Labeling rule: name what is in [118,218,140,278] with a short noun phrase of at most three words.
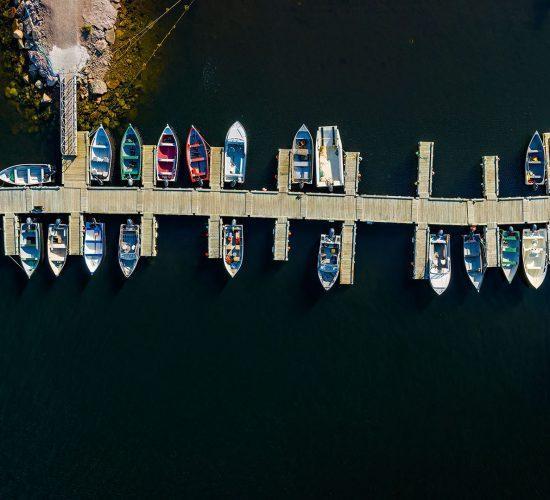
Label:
boat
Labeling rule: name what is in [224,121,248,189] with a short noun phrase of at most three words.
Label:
boat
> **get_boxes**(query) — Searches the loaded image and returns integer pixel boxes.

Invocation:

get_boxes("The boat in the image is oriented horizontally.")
[0,164,60,186]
